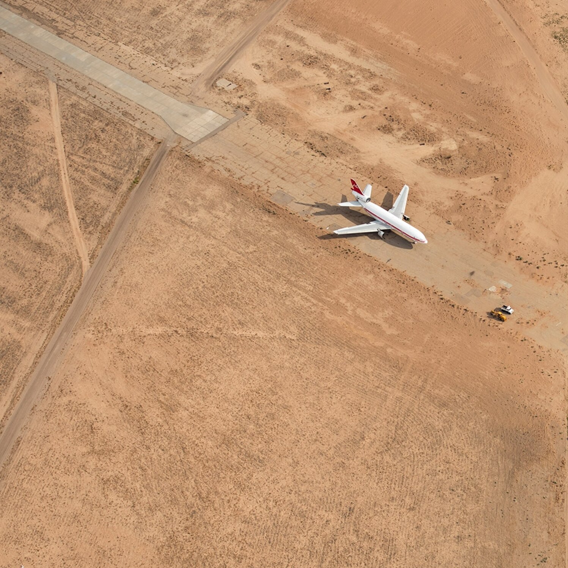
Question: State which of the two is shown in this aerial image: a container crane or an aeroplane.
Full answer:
I can see an aeroplane in this picture.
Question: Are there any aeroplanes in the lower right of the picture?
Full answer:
No, there's no aeroplane to be seen in the lower right of the picture.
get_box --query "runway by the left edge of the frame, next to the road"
[0,6,211,139]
